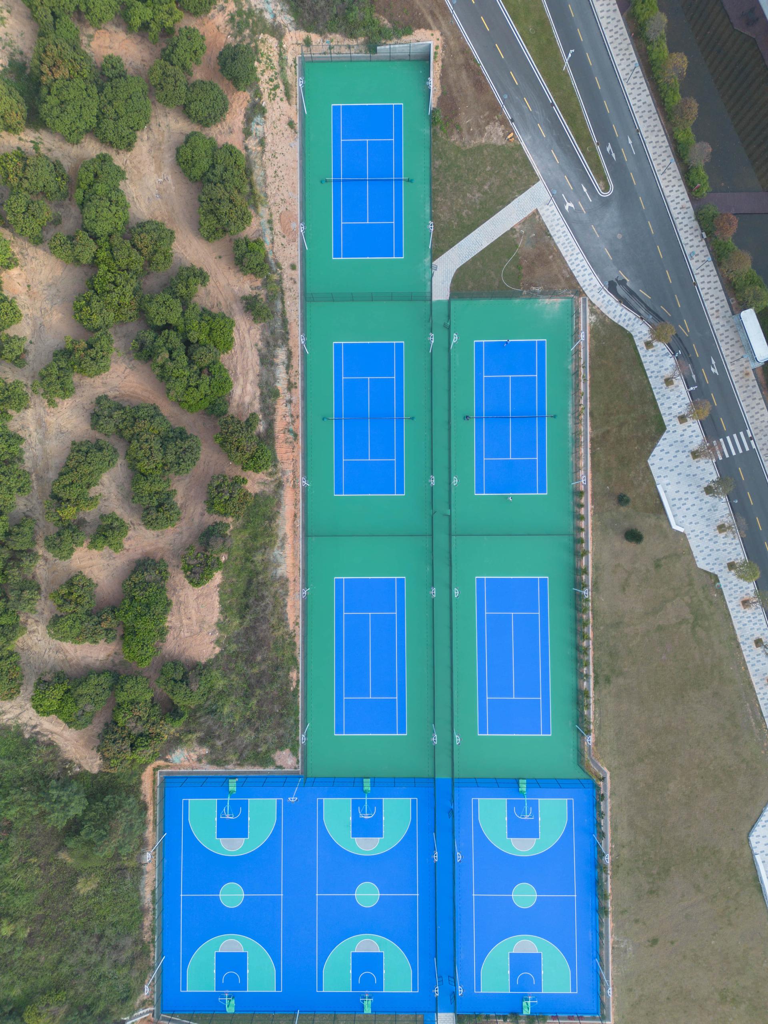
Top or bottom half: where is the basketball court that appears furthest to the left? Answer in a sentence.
Seen from above, the basketball court that appears furthest to the left lies in the bottom half of the view.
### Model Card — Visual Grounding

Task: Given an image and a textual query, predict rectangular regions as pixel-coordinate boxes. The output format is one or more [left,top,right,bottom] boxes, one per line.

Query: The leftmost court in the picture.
[161,776,300,1014]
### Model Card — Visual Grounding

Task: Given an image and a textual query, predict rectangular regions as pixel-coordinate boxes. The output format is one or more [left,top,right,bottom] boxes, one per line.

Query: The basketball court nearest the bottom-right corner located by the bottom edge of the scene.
[452,779,602,1016]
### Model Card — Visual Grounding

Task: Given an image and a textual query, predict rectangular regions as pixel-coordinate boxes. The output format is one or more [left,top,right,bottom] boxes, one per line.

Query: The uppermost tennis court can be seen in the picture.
[306,61,432,301]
